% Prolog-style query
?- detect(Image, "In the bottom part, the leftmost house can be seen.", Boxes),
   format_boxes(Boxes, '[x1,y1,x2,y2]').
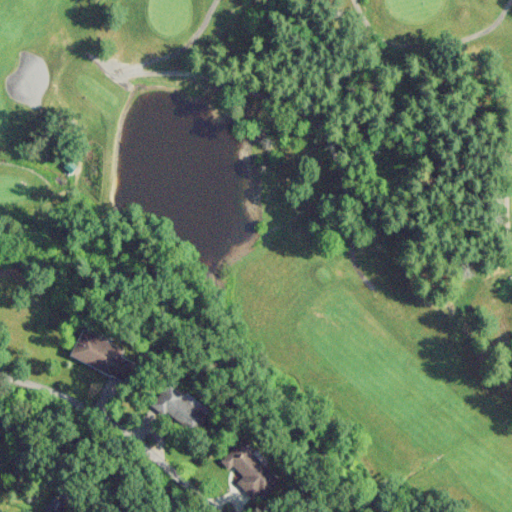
[70,332,140,380]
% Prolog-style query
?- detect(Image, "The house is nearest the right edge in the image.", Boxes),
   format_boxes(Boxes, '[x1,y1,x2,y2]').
[220,450,273,496]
